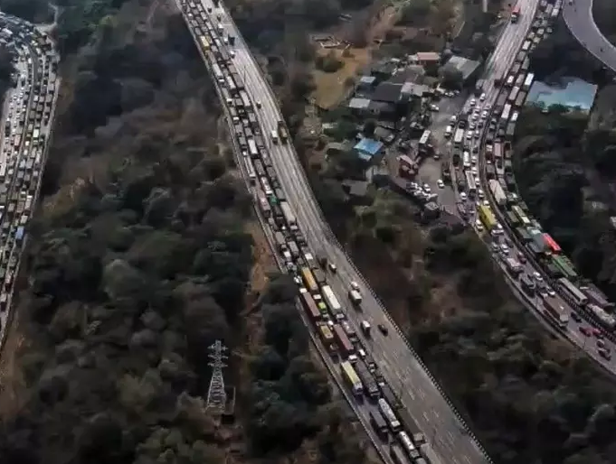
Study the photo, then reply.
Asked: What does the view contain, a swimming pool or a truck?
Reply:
truck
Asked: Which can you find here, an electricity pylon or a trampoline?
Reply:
electricity pylon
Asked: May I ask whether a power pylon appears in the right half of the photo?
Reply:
No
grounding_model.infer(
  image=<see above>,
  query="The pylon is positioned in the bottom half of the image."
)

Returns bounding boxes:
[203,338,238,419]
